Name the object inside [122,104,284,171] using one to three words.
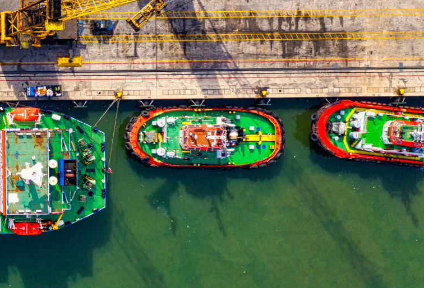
boat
